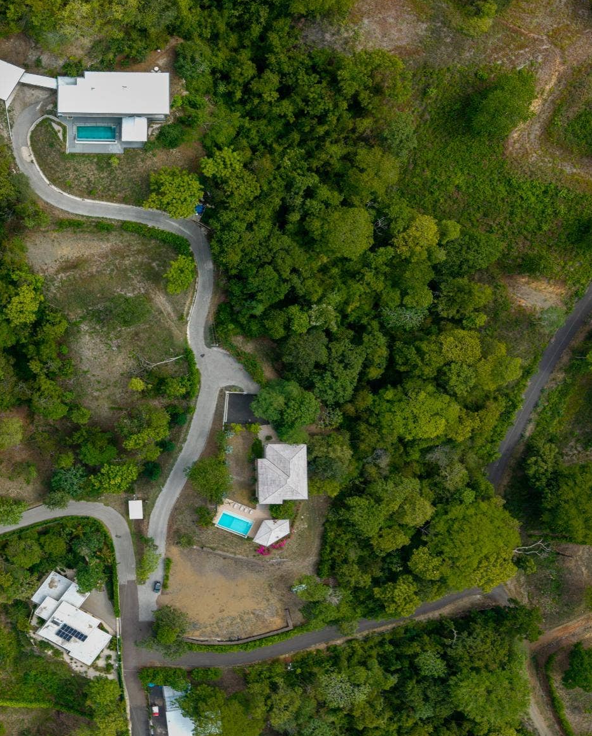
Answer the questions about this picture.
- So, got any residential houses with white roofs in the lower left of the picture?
Yes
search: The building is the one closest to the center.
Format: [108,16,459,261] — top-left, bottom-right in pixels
[254,443,308,504]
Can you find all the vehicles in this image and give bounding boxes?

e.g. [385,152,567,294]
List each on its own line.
[154,581,160,594]
[153,706,160,717]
